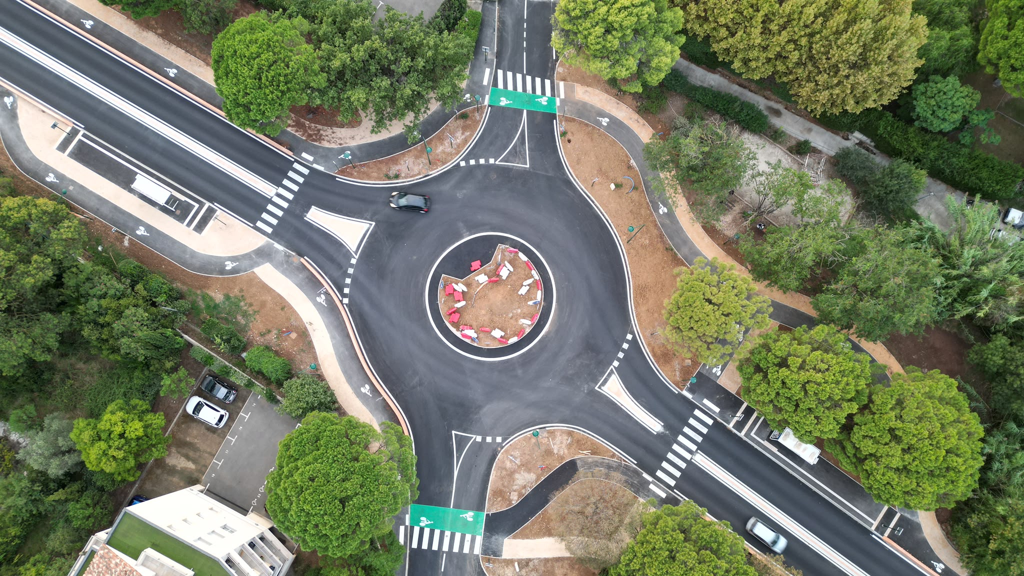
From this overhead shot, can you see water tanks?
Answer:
No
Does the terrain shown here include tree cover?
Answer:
Yes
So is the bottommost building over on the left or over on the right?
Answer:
left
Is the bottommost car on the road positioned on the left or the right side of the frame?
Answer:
right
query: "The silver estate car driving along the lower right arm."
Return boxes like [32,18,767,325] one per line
[744,516,787,554]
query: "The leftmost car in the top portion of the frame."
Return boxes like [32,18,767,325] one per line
[389,190,431,214]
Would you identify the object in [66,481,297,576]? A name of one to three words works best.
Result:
building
